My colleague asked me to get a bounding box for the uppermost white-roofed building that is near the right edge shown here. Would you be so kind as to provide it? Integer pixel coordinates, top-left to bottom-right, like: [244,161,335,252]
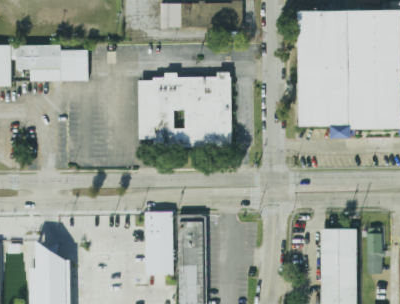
[298,11,400,129]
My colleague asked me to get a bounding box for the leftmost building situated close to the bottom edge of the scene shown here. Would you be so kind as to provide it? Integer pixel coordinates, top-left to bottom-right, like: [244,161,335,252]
[29,242,72,304]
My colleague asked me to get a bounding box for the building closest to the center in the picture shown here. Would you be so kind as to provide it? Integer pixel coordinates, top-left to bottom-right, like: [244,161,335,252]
[138,72,233,145]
